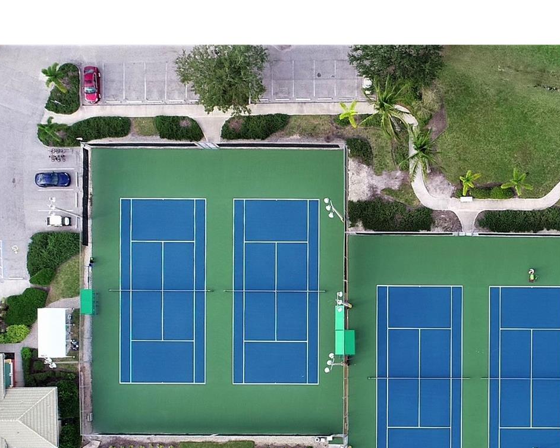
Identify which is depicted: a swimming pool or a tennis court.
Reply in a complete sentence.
Visible in the photo is a tennis court.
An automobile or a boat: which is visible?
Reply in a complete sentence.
Visible in the photo is an automobile.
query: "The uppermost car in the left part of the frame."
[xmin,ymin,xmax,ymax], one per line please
[82,67,102,104]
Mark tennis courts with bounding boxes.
[91,148,219,435]
[475,235,560,448]
[219,148,343,435]
[348,235,475,448]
